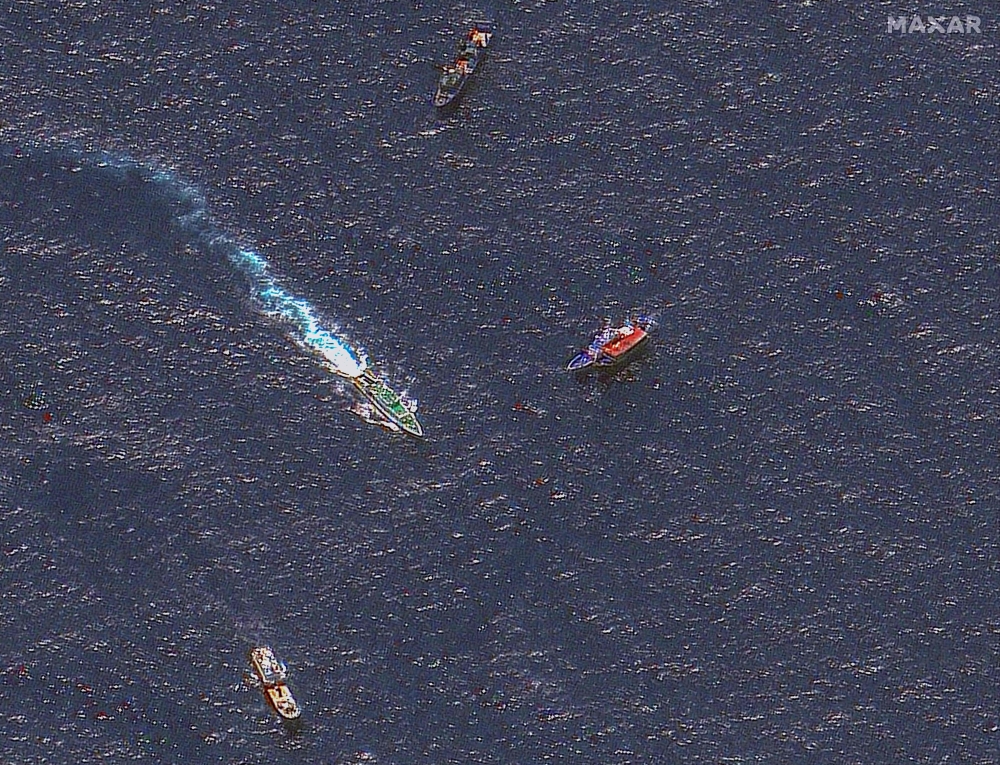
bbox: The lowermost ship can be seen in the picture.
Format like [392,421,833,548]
[251,646,301,719]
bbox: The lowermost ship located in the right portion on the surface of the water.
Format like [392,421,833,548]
[567,312,656,371]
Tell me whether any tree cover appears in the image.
No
